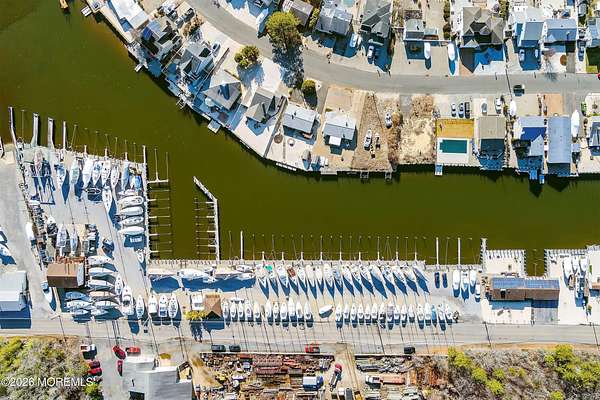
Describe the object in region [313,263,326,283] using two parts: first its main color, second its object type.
white boat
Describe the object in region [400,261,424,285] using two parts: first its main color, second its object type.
white boat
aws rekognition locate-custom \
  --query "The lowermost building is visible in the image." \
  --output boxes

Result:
[121,358,193,400]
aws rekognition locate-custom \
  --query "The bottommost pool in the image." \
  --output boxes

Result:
[438,139,468,155]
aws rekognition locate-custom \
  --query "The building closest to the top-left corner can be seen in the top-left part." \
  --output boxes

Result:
[105,0,151,32]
